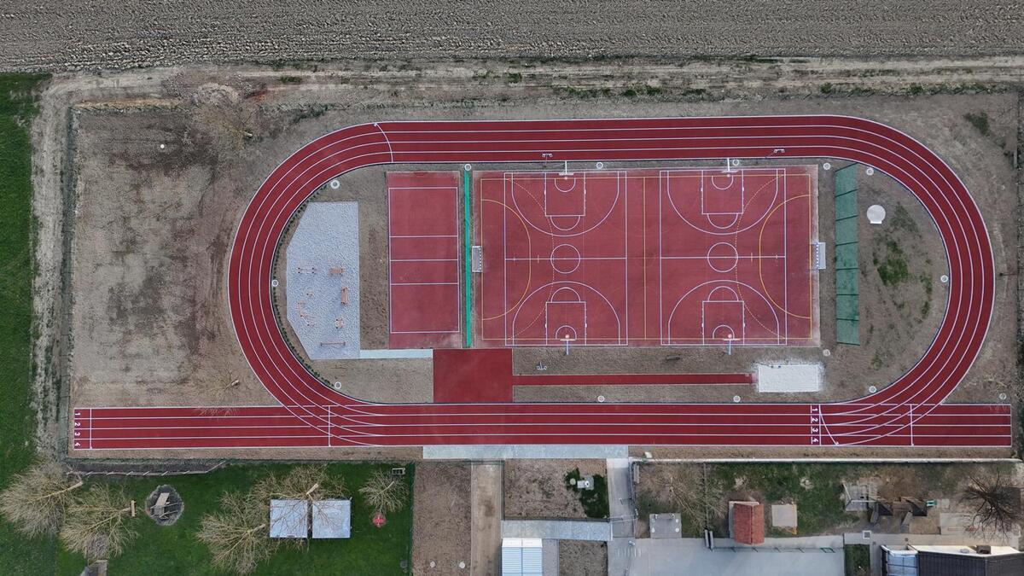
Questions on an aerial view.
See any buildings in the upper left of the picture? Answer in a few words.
No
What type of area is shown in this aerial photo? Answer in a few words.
sports ground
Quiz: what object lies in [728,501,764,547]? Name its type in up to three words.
shed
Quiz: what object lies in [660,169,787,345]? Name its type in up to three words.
basketball court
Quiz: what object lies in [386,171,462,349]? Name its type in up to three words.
sports court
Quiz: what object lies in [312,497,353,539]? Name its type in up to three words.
shed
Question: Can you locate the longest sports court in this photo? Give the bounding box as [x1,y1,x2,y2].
[473,165,821,348]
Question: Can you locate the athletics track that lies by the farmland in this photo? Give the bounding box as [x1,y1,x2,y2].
[73,114,1012,450]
